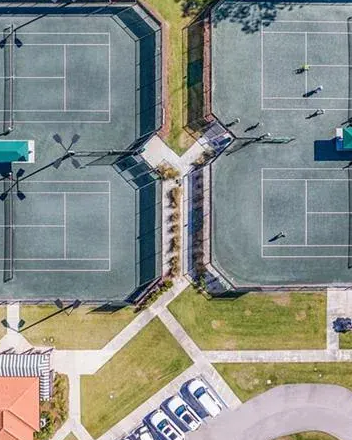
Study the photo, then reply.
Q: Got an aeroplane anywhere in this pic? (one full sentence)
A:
No, no aeroplane can be seen from above.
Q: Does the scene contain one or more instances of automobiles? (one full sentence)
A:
Yes, you can see an automobile in this photo.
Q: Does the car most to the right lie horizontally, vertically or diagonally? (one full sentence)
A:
What the image shows is the car most to the right lying diagonally.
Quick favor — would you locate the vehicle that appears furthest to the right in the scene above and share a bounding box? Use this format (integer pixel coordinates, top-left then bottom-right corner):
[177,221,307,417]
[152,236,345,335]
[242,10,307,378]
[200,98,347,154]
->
[189,379,223,417]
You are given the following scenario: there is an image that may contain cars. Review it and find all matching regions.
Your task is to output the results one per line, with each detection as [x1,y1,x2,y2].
[168,394,202,433]
[189,379,223,417]
[150,408,184,440]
